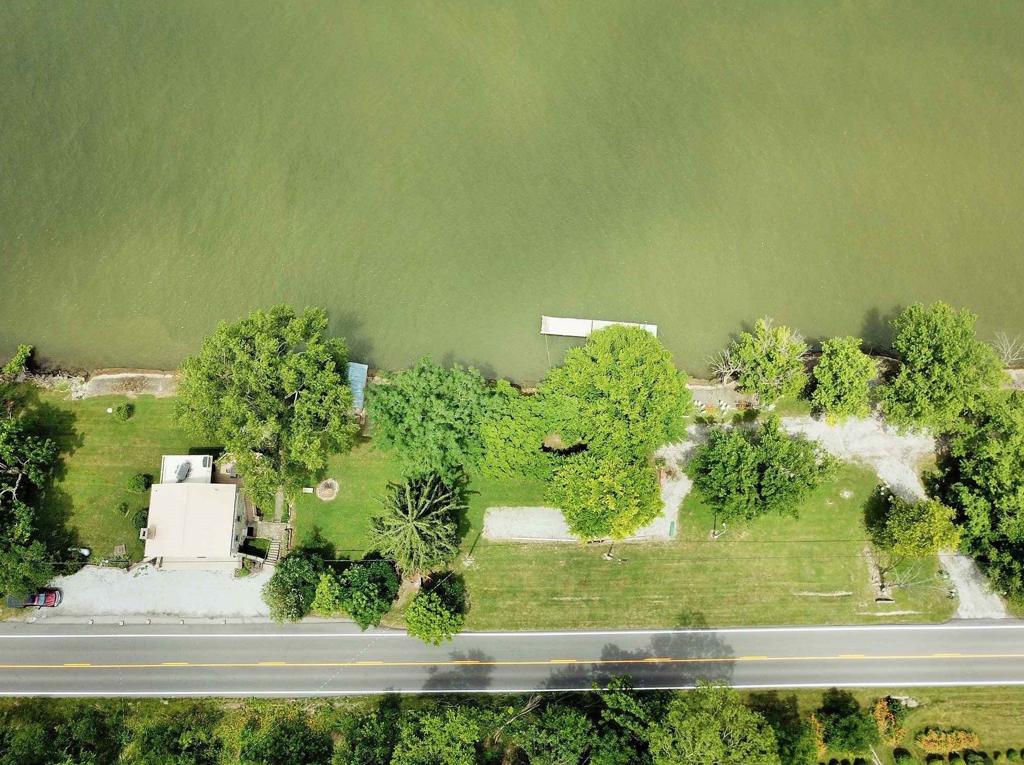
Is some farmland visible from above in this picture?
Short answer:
No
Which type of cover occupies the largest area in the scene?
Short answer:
water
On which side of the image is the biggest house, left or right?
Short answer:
left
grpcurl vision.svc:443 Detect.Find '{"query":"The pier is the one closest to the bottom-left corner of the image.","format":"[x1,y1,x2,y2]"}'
[351,364,367,408]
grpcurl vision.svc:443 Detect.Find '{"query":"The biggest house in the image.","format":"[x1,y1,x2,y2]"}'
[138,455,245,570]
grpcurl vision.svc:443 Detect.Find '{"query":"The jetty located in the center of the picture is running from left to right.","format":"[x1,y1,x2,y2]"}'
[540,316,658,344]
